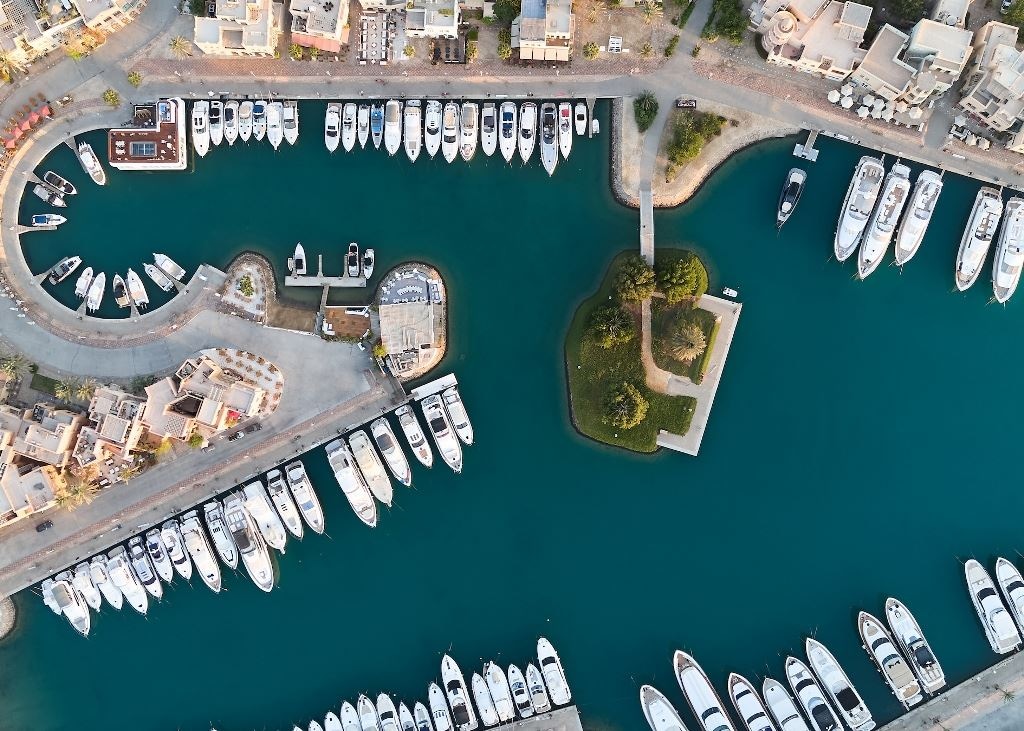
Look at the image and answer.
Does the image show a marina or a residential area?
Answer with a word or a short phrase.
marina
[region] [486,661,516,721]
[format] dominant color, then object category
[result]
white boat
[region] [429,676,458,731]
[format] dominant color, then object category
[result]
white boat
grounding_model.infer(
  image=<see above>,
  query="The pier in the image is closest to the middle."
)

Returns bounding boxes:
[404,374,458,403]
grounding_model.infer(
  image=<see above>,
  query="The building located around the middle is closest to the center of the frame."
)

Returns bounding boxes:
[380,301,436,372]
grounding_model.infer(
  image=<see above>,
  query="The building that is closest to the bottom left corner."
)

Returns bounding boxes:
[0,461,68,528]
